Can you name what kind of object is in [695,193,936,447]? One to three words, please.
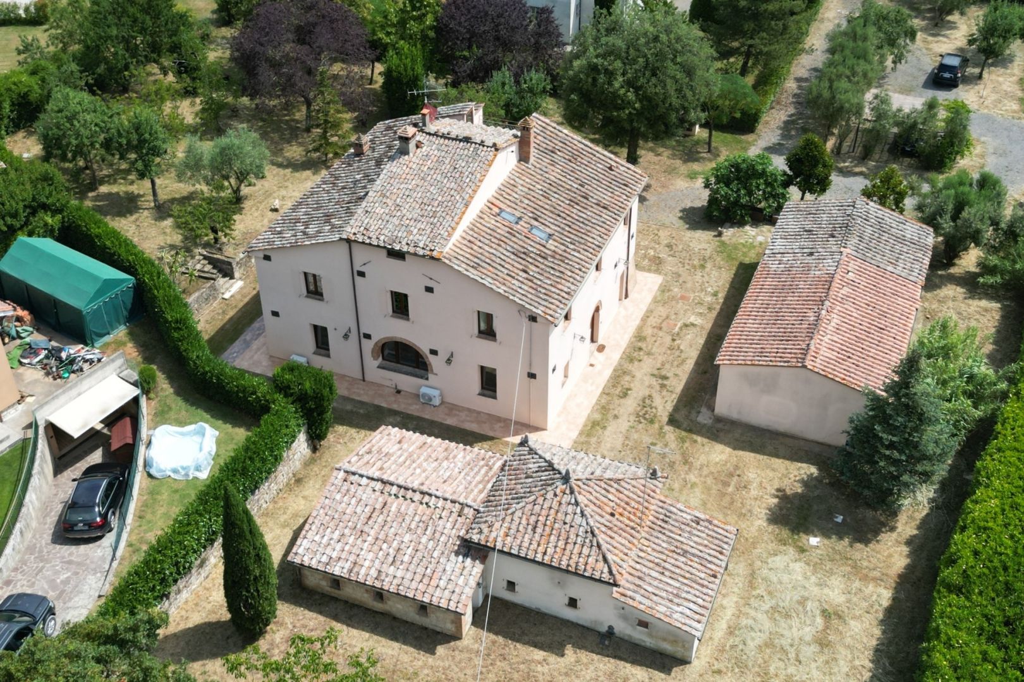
barn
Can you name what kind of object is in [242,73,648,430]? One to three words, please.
house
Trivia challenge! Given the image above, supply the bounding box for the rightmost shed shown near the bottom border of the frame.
[467,434,743,661]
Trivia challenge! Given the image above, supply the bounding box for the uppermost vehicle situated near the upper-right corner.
[930,52,964,91]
